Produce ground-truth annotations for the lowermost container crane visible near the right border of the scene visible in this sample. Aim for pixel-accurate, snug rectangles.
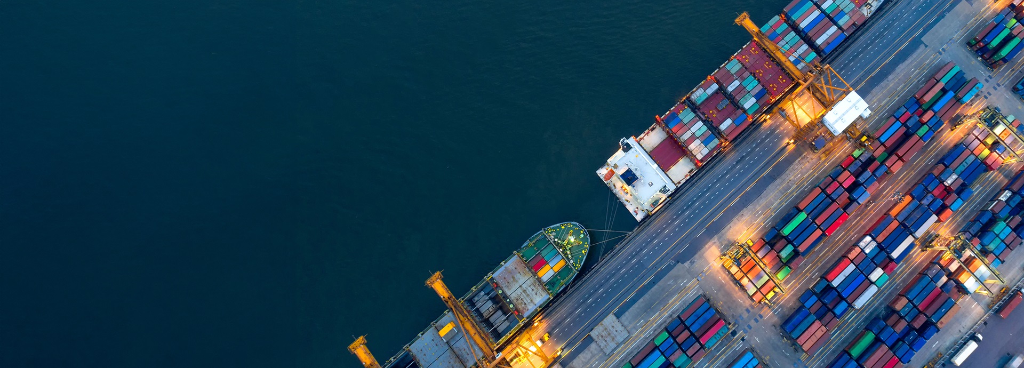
[921,227,1007,296]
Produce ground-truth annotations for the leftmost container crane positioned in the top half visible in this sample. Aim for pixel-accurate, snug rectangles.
[732,7,878,156]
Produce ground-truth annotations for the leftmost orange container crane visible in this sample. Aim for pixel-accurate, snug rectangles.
[348,338,383,368]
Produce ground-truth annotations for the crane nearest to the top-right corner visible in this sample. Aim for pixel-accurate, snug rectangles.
[952,106,1024,172]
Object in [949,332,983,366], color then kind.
white truck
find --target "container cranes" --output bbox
[921,227,1007,296]
[732,7,878,156]
[719,235,785,305]
[952,106,1024,172]
[425,272,570,368]
[348,338,383,368]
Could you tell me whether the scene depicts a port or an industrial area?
port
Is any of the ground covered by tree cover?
No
